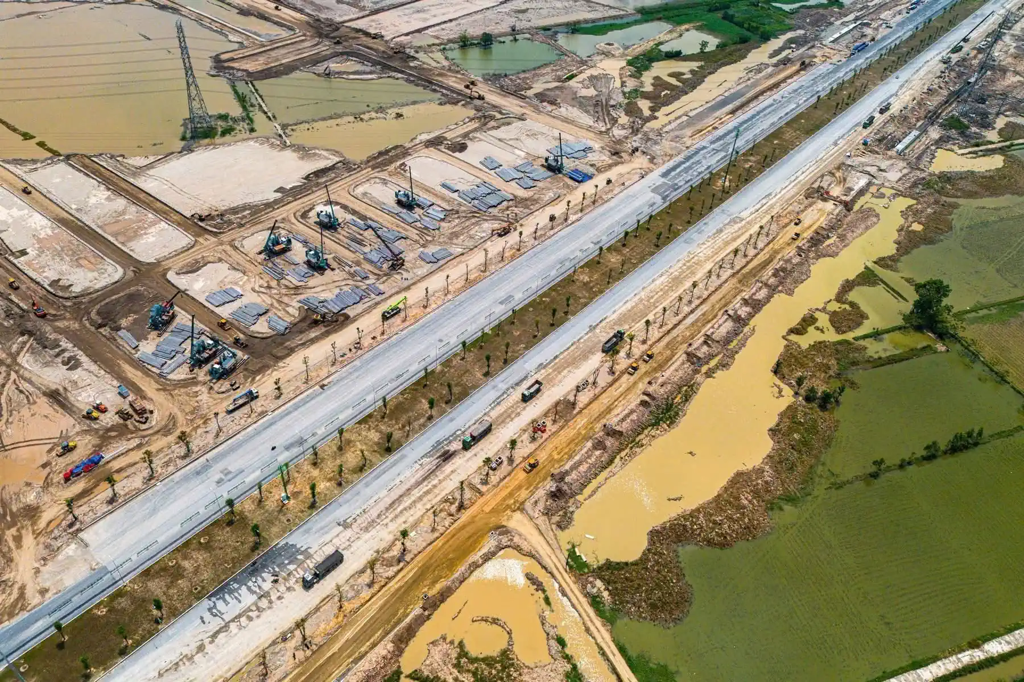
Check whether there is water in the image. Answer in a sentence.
Yes, the picture does contain water.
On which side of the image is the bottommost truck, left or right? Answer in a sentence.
The bottommost truck appears in the left half of the scene.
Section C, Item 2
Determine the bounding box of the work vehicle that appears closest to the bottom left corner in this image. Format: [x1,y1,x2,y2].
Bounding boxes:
[55,438,77,454]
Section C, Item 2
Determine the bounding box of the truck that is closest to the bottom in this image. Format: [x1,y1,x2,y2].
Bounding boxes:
[300,542,344,585]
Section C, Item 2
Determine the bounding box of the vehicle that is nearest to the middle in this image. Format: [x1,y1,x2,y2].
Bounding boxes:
[520,373,547,400]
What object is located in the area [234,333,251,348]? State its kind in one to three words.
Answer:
work vehicle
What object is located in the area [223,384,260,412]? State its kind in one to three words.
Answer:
truck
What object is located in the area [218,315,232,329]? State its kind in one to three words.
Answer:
work vehicle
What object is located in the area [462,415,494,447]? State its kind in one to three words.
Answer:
truck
